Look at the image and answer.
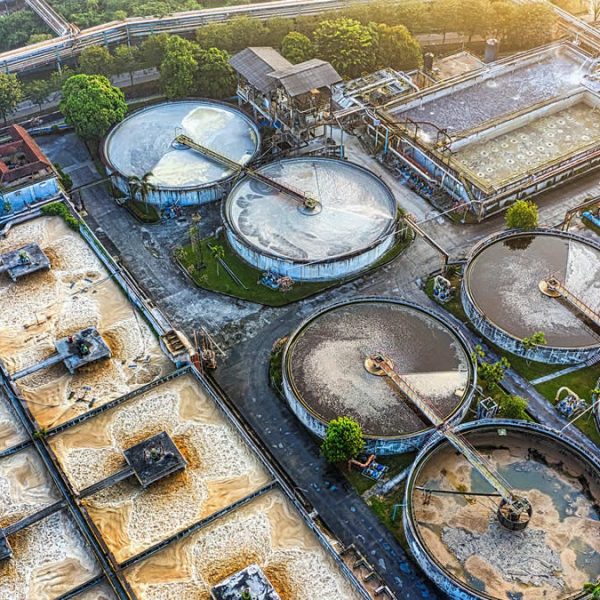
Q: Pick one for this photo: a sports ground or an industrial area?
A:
industrial area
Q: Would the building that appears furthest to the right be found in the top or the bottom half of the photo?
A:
top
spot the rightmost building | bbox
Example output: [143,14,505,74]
[432,47,488,81]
